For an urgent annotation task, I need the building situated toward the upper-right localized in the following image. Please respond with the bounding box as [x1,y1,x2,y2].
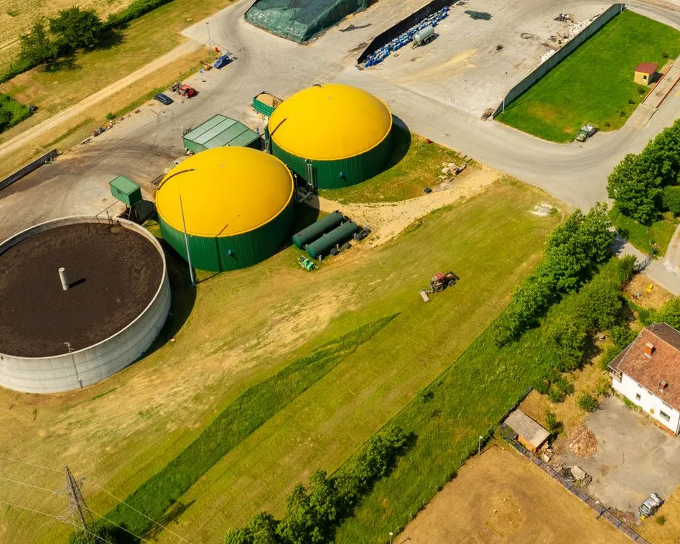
[636,60,658,84]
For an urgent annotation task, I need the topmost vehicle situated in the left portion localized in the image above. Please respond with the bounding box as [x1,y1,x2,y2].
[214,55,231,67]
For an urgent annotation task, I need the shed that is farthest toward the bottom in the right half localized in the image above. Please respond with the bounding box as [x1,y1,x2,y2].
[504,409,549,456]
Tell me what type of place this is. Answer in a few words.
industrial area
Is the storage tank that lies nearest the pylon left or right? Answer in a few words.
left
